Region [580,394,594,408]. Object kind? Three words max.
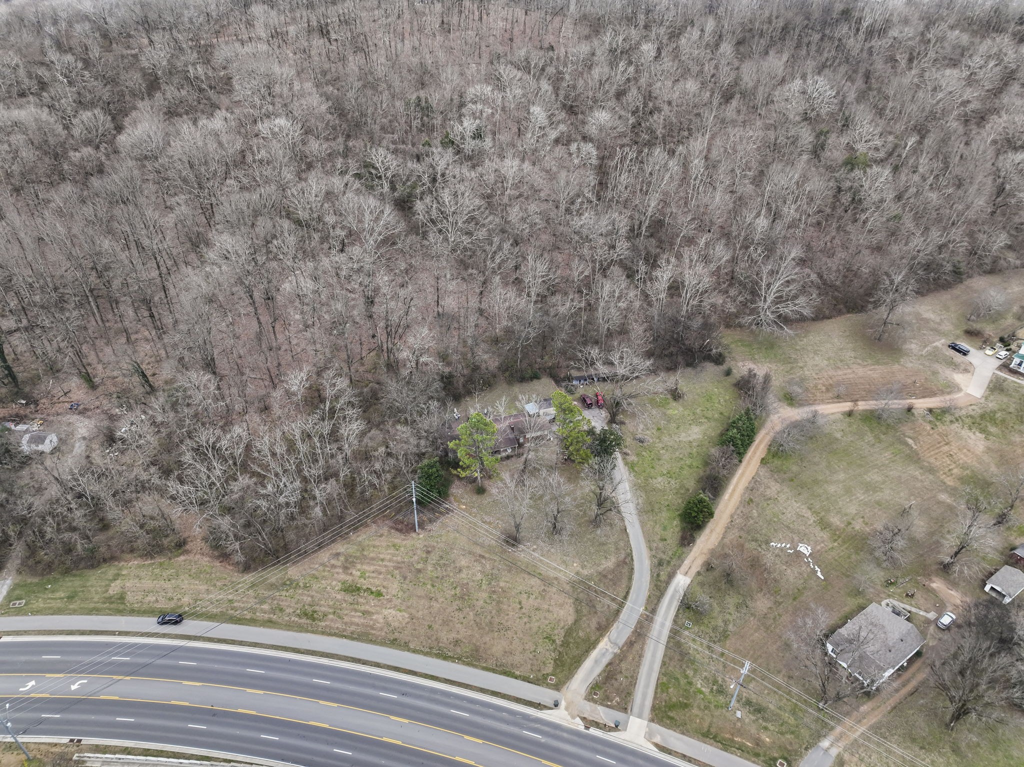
car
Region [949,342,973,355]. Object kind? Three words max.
vehicle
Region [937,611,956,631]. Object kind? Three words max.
car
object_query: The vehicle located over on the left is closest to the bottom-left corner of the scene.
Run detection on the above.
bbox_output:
[156,612,184,625]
